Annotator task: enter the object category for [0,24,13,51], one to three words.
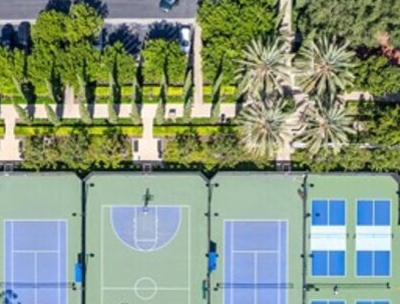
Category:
vehicle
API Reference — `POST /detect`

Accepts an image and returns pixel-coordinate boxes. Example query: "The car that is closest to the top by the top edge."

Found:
[158,0,173,15]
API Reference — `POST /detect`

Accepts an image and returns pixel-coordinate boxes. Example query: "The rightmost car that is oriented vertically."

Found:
[179,23,191,52]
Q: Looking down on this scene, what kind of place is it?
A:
sports ground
